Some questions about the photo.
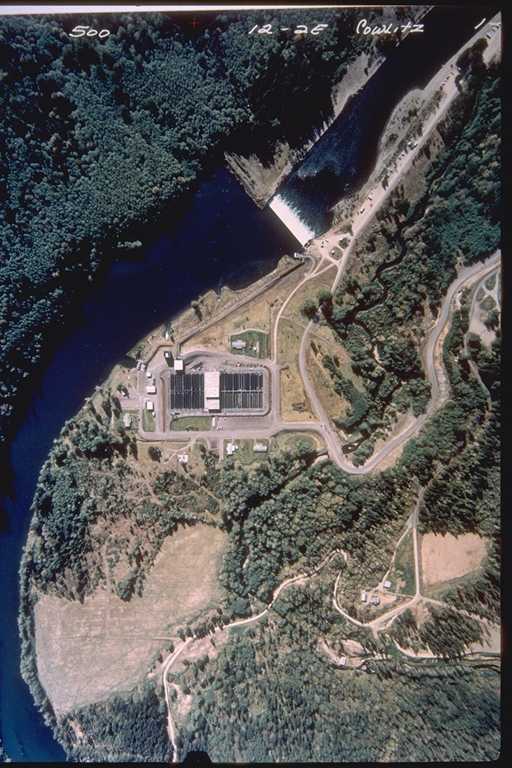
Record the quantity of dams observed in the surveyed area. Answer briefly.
1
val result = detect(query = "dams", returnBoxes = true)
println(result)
[265,194,314,256]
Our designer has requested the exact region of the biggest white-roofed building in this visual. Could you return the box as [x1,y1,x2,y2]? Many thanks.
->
[205,370,220,410]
